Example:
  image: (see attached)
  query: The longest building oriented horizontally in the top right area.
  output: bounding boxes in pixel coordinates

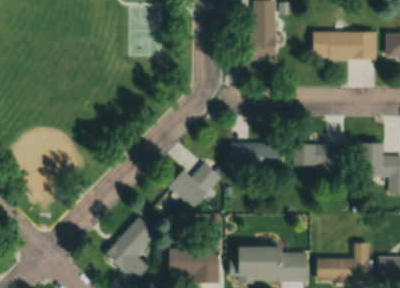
[314,32,378,60]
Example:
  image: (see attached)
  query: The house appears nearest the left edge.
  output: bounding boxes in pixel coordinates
[103,219,152,281]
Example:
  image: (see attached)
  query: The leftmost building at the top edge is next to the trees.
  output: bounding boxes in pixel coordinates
[253,0,276,60]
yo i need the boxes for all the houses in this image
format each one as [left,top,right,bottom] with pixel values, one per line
[103,219,152,281]
[230,246,308,282]
[253,0,276,60]
[294,143,342,166]
[230,142,282,164]
[169,248,220,282]
[378,256,400,279]
[314,32,378,60]
[170,162,220,206]
[317,242,370,281]
[362,142,400,194]
[386,33,400,56]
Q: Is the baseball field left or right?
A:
left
